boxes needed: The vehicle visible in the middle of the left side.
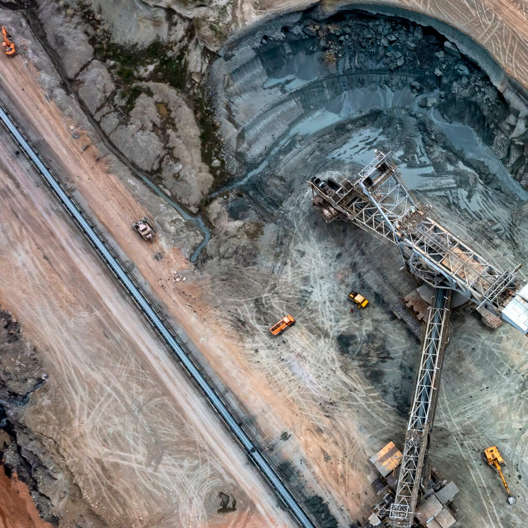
[127,216,155,245]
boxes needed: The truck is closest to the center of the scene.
[265,314,297,338]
